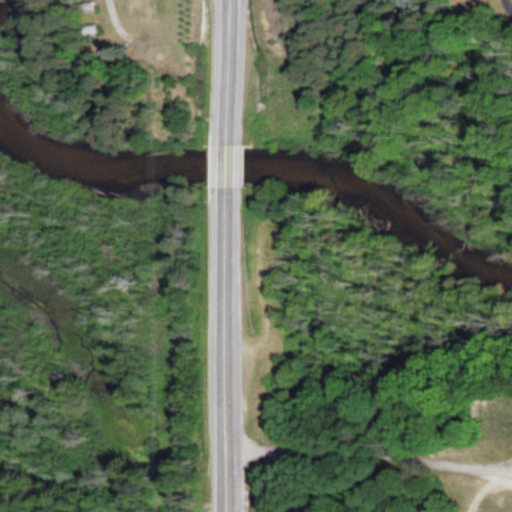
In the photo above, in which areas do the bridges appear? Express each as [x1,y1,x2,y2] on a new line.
[206,142,252,190]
